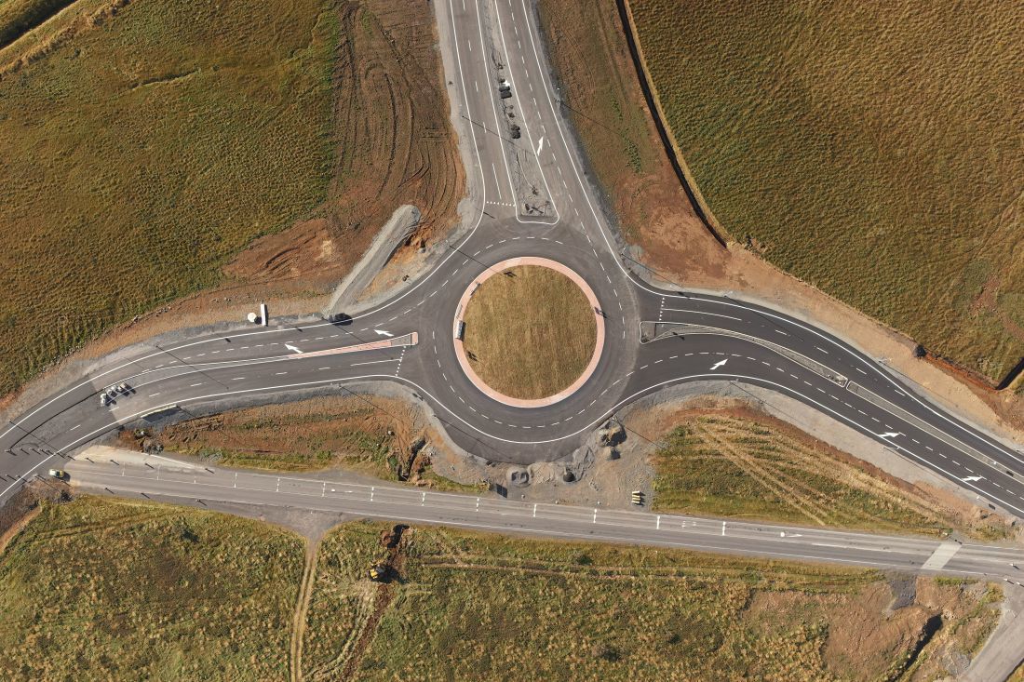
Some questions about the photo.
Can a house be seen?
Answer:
No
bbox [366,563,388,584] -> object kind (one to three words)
work vehicle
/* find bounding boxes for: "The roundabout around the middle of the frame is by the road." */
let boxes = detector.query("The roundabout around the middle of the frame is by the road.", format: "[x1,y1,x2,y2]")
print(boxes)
[403,210,640,465]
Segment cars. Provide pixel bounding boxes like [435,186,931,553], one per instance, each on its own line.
[46,469,64,479]
[328,313,346,322]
